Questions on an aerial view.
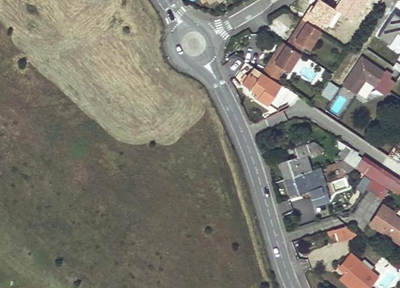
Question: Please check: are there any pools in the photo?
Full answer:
Yes, there's a pool down there.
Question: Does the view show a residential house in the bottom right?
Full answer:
Yes, a residential house shows up in the bottom right.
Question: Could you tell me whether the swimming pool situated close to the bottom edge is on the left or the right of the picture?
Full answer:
It is on the right.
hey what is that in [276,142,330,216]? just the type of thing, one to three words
house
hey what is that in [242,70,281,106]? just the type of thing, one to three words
house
